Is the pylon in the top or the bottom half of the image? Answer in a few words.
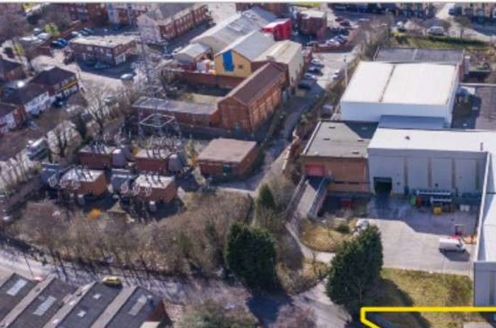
top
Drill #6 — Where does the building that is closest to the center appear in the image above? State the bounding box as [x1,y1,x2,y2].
[198,141,259,180]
